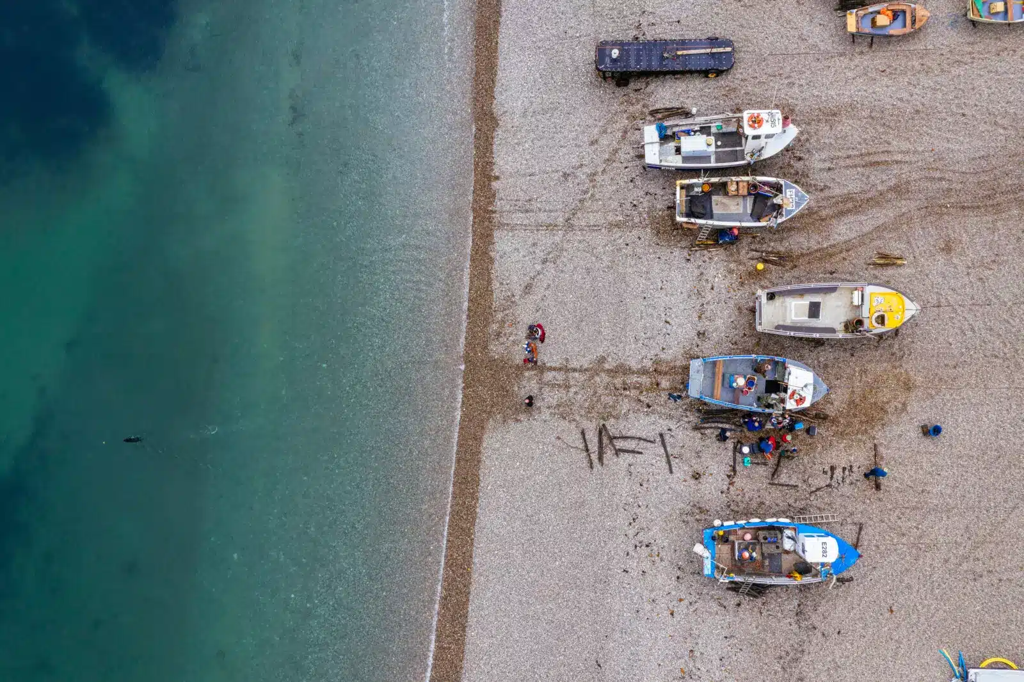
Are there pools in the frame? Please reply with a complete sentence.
No, I can't see a single pool in this photo.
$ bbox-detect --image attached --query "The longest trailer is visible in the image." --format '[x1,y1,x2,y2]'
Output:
[595,35,734,86]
